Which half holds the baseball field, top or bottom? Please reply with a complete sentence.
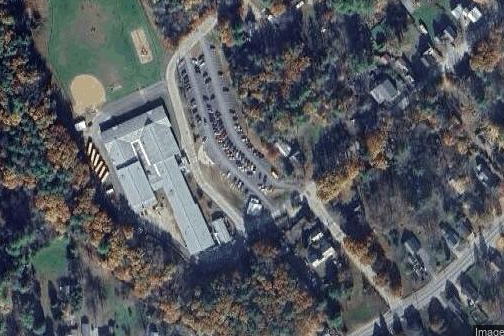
The baseball field is in the top half of the image.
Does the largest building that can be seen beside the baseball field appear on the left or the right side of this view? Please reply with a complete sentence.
You can find the largest building that can be seen beside the baseball field on the left side of the picture.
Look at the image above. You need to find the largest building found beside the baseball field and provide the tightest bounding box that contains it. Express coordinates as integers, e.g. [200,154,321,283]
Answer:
[101,105,215,255]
